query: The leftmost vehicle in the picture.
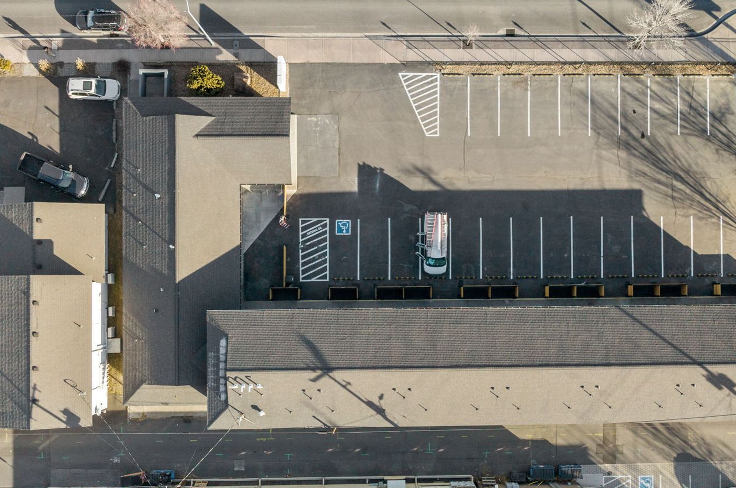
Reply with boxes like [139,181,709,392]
[18,151,89,196]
